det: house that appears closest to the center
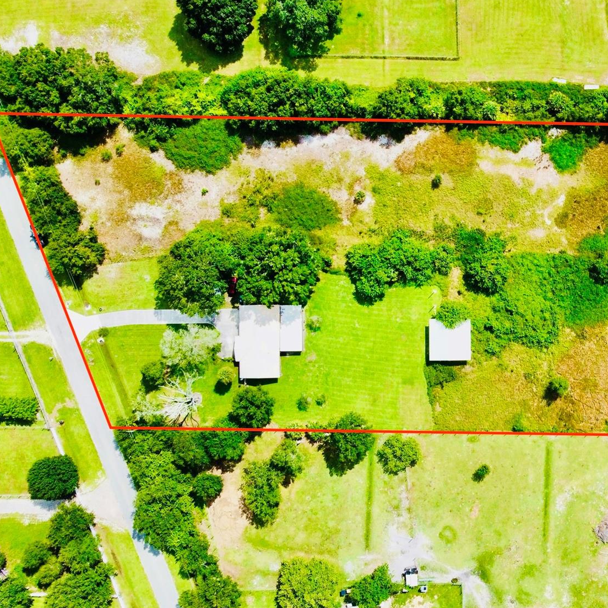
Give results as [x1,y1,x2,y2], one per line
[235,305,304,378]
